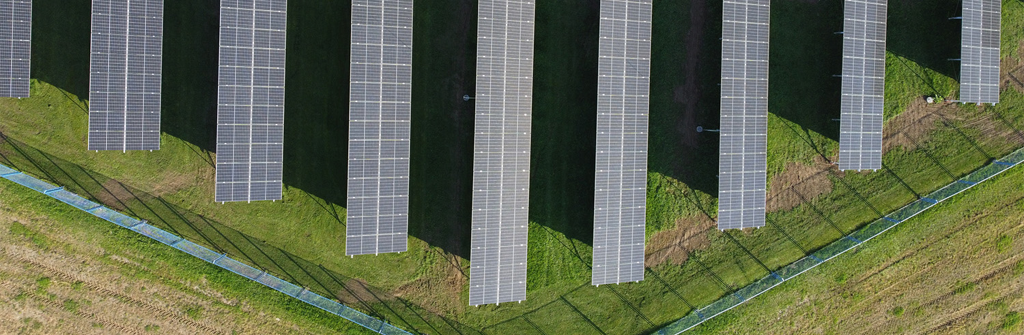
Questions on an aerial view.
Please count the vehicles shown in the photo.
0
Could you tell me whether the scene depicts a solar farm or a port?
solar farm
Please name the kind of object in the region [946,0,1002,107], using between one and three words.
solar array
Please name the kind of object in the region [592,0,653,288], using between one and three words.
solar array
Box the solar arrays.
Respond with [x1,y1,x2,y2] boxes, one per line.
[347,0,413,259]
[470,0,535,308]
[216,0,286,205]
[829,0,888,173]
[714,0,772,232]
[89,0,162,153]
[592,0,653,288]
[0,0,31,100]
[946,0,1002,107]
